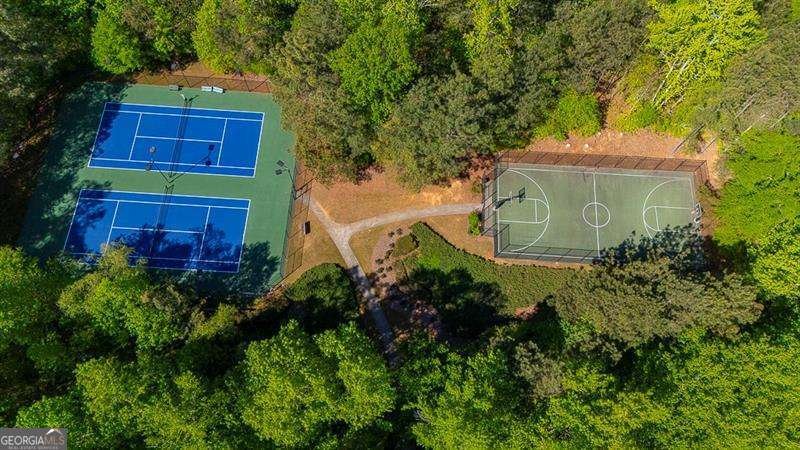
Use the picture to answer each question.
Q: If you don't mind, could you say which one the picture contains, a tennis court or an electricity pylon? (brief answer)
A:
tennis court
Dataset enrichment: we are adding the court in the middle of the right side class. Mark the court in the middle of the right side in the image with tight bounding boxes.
[481,161,706,268]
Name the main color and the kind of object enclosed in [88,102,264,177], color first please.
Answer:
blue tennis court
